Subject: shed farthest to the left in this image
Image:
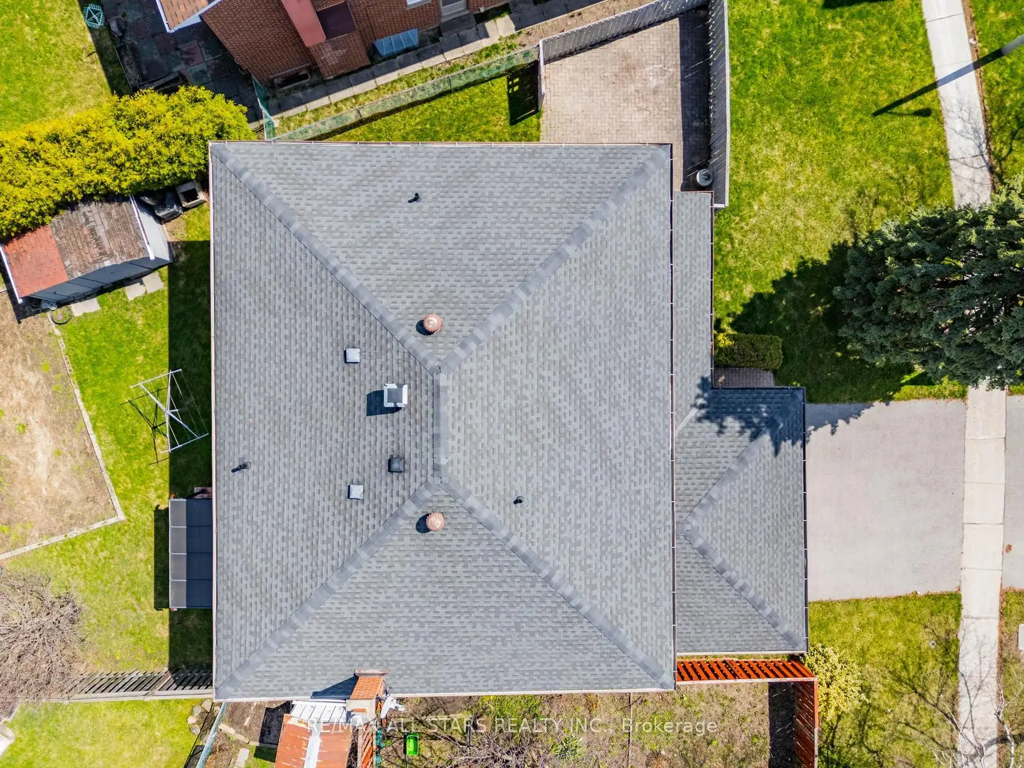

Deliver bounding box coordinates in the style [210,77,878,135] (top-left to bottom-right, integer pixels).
[0,183,168,302]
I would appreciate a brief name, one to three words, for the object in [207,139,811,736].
house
